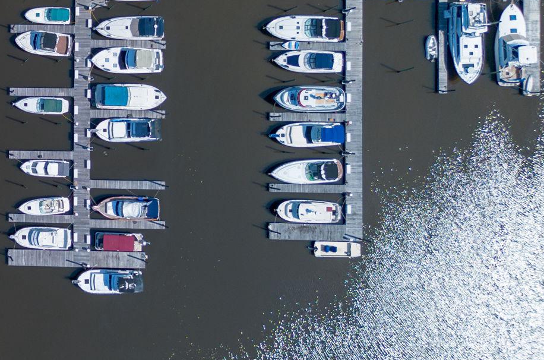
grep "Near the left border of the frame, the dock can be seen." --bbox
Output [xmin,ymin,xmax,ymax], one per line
[8,0,166,269]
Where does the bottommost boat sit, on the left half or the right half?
left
